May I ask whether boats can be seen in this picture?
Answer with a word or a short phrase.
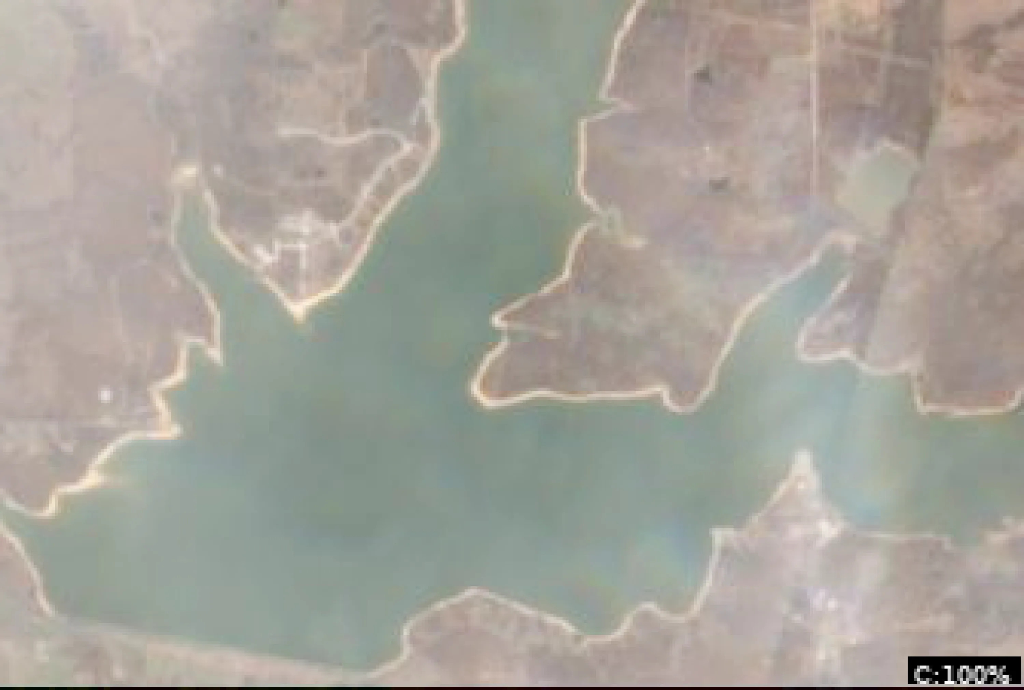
No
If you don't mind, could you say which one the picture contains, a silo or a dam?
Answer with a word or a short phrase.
dam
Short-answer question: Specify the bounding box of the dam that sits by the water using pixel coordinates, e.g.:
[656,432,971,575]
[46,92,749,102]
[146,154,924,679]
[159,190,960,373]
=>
[50,614,371,686]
